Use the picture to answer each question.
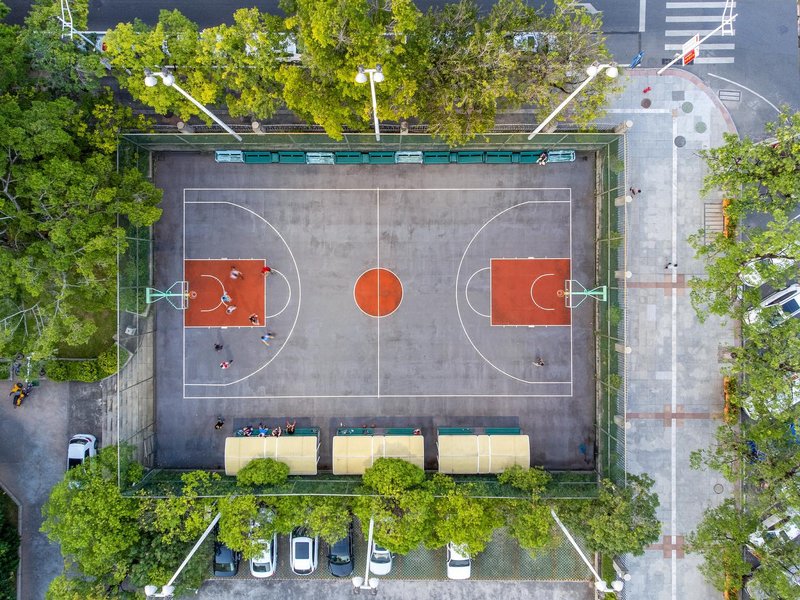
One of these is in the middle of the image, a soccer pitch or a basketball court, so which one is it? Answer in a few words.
basketball court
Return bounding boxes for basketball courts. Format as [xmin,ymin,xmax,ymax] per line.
[152,149,597,470]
